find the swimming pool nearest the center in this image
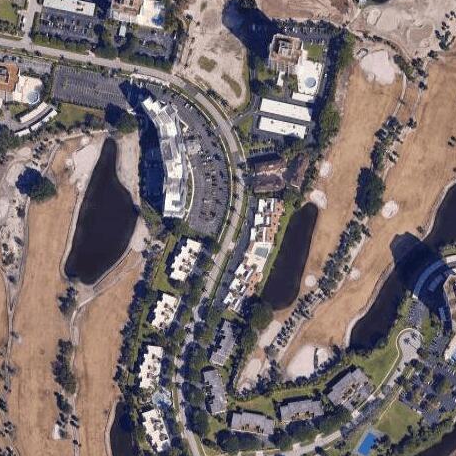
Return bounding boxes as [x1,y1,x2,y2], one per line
[247,243,272,272]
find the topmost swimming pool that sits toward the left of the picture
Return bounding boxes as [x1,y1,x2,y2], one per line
[141,0,165,27]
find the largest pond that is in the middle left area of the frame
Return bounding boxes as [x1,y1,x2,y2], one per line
[65,138,138,283]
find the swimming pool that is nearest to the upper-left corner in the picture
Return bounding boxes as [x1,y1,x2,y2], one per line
[17,76,43,104]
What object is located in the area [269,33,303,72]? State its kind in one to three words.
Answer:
building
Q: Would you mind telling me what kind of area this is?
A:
golf course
